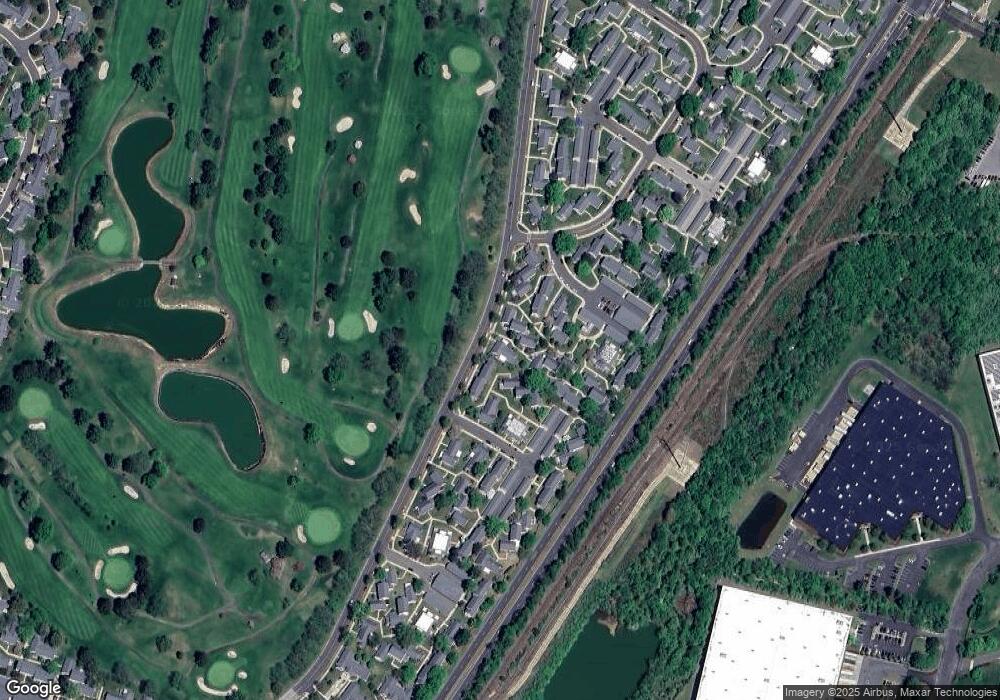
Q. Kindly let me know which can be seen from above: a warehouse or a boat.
warehouse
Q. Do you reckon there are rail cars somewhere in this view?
No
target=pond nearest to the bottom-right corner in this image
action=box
[737,492,788,549]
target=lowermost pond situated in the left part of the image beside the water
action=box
[160,372,264,468]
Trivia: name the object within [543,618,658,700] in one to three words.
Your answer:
pond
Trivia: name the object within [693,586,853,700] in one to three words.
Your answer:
warehouse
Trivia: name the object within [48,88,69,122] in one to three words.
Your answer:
house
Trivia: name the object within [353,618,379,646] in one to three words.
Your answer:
house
